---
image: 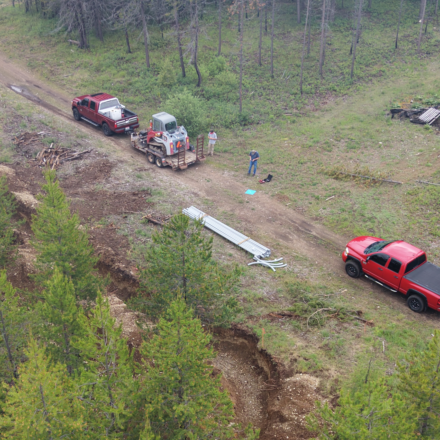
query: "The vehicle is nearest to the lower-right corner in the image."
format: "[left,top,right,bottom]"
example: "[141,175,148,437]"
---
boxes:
[340,235,440,315]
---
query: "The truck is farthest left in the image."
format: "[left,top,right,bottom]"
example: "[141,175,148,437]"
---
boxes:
[67,91,143,138]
